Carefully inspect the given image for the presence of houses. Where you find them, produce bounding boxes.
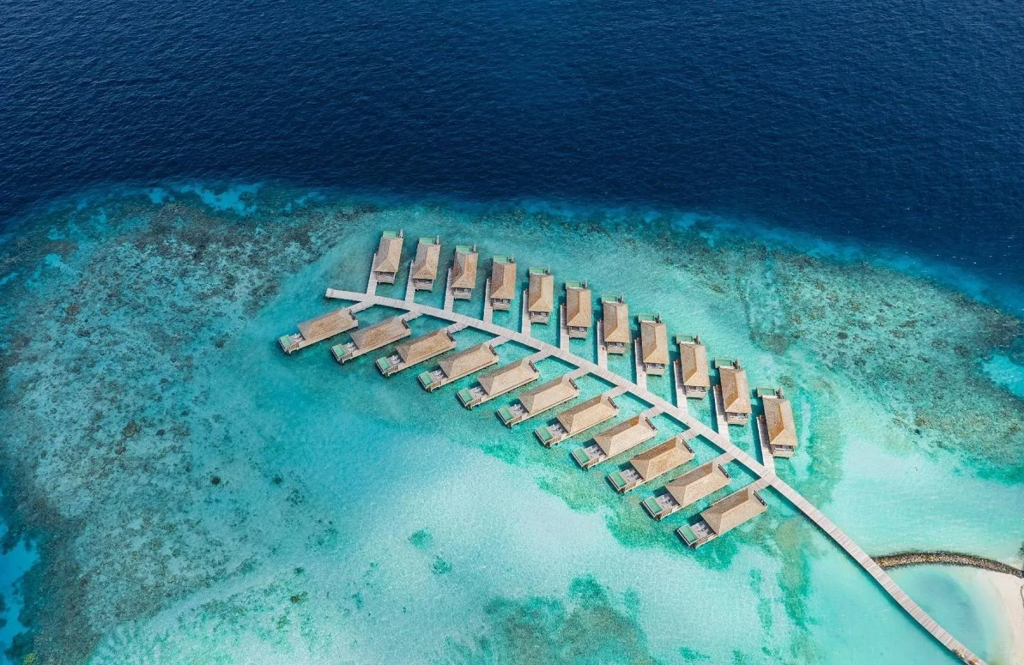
[504,374,580,432]
[337,315,411,372]
[374,233,405,291]
[528,271,553,329]
[715,359,751,429]
[616,435,694,498]
[425,342,500,398]
[491,259,516,317]
[542,393,618,452]
[567,282,591,344]
[579,414,656,475]
[757,388,797,460]
[463,358,537,414]
[283,307,358,364]
[382,327,458,385]
[651,461,730,526]
[638,316,668,380]
[686,487,767,553]
[602,297,628,359]
[412,240,441,298]
[451,247,478,307]
[677,335,709,402]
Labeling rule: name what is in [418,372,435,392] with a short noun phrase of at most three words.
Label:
swimming pool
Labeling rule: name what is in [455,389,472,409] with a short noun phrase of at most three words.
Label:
swimming pool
